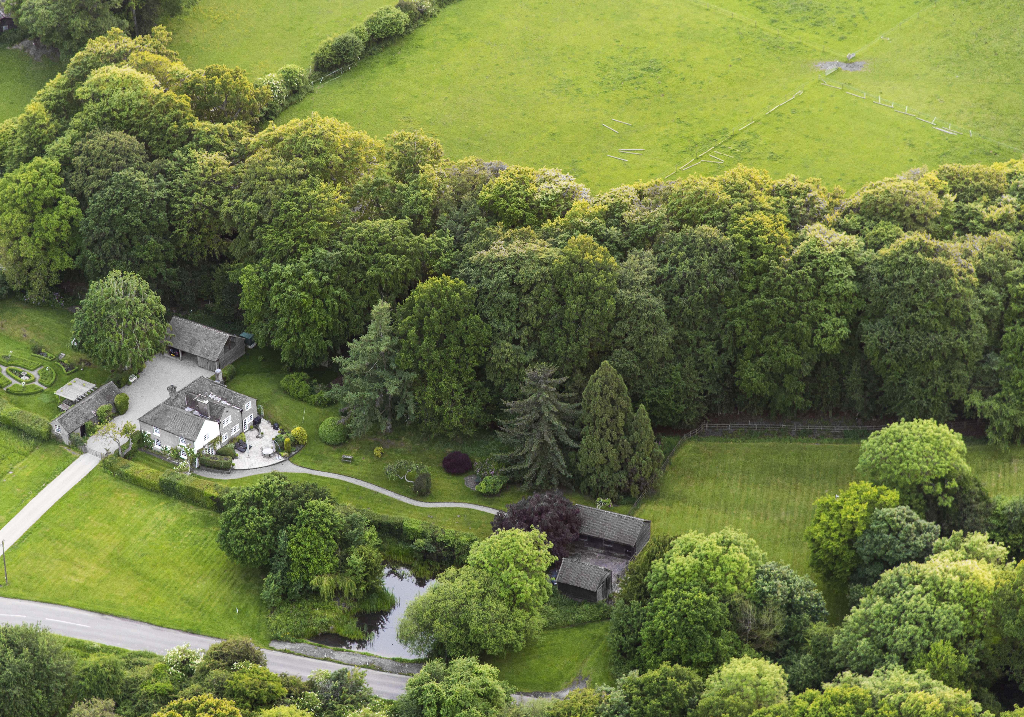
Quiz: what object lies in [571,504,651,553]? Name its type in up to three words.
building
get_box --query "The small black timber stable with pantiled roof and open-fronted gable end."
[556,561,612,600]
